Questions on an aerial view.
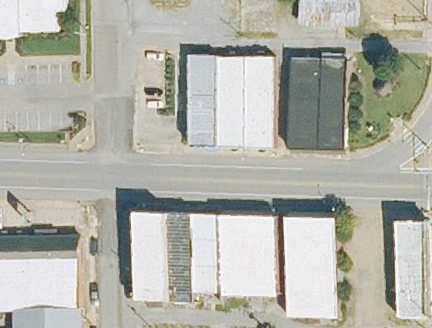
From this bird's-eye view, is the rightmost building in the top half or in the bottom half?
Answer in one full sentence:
The rightmost building is in the bottom half of the image.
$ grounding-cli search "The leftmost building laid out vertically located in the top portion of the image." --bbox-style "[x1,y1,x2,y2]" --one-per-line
[186,55,217,150]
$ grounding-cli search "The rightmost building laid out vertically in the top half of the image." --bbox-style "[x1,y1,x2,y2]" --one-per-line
[318,52,348,150]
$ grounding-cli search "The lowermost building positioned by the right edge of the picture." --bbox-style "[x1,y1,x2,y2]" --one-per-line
[394,221,431,319]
